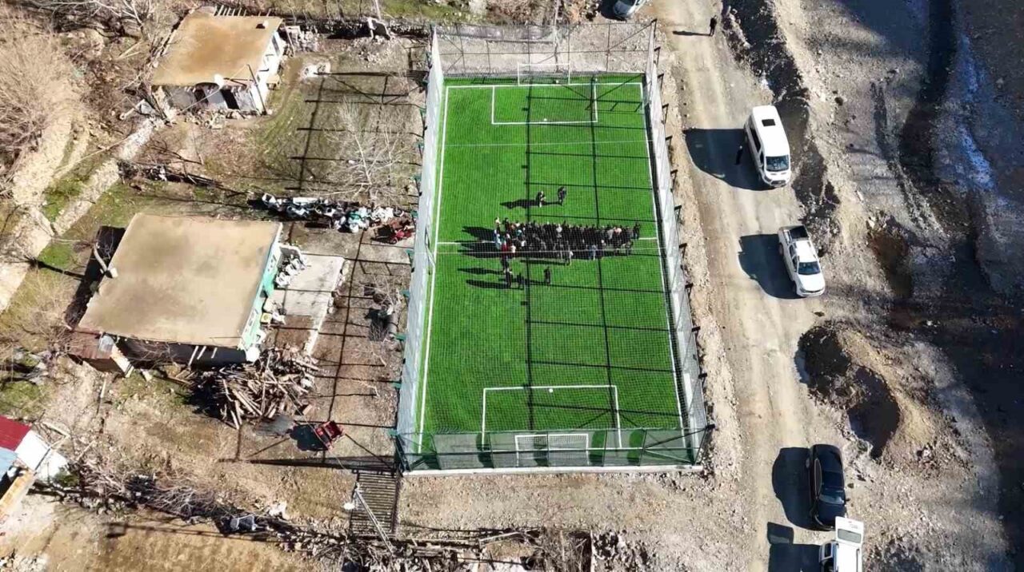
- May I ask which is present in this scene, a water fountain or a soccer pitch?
soccer pitch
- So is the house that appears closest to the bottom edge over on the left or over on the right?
left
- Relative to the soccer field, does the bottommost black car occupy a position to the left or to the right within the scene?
to its right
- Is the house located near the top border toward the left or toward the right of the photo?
left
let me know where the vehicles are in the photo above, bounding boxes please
[778,226,831,299]
[822,519,868,572]
[808,442,857,534]
[617,0,650,17]
[745,102,798,186]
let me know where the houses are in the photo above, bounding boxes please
[0,411,63,540]
[79,213,289,362]
[153,9,290,112]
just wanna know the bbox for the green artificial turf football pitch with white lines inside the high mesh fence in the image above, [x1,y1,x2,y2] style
[403,67,702,477]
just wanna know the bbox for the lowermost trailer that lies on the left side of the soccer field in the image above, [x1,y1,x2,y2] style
[310,418,348,456]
